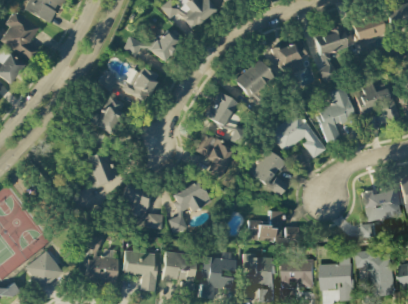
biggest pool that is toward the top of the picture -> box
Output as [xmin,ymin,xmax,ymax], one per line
[106,60,130,78]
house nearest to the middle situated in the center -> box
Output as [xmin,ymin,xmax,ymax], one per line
[195,136,232,172]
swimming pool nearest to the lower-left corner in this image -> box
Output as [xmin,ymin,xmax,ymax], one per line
[187,208,211,230]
